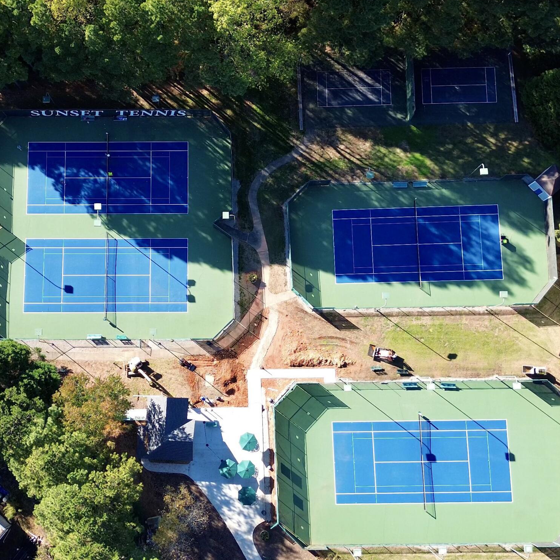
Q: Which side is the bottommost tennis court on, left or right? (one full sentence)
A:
The bottommost tennis court is on the right side of the image.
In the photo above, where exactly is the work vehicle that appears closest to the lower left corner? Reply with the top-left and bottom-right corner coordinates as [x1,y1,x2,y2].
[120,363,154,396]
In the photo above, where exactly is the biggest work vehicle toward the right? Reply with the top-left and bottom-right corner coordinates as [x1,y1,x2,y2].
[368,345,398,365]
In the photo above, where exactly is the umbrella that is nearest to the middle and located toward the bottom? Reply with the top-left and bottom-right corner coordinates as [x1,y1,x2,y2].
[240,432,258,451]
